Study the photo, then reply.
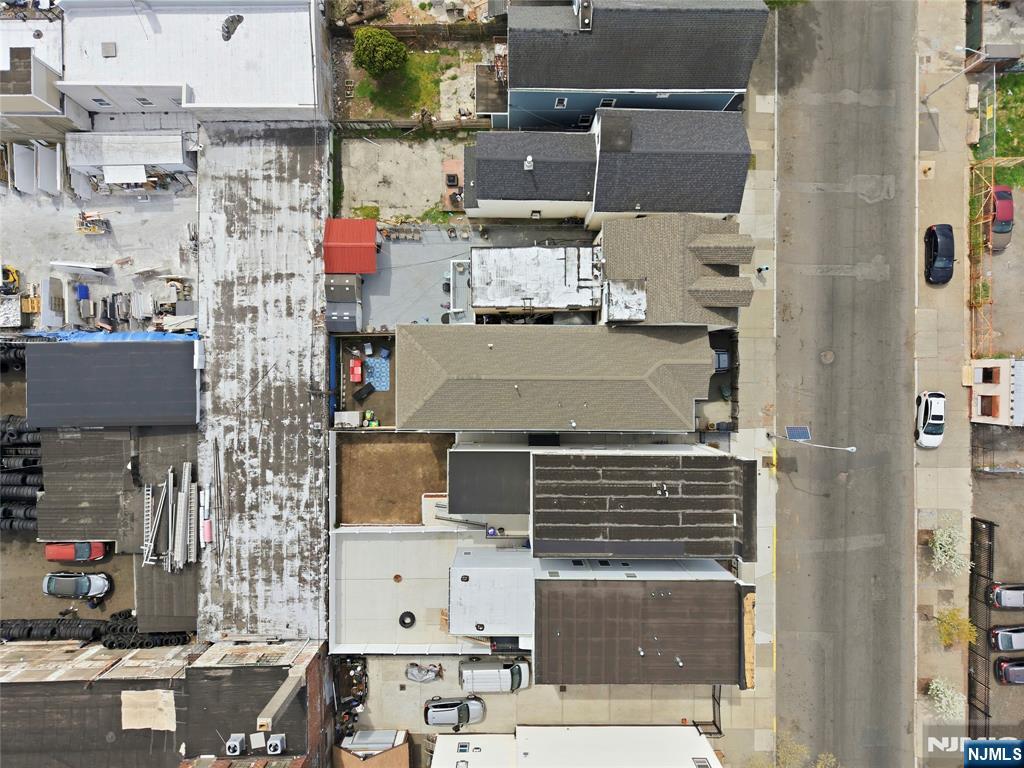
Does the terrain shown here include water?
No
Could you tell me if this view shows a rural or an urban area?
urban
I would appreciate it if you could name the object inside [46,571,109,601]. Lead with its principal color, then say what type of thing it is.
gray car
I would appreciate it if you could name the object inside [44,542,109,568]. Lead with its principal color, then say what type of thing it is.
red vehicle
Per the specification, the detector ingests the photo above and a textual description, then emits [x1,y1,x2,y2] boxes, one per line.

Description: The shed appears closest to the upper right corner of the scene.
[956,45,1021,72]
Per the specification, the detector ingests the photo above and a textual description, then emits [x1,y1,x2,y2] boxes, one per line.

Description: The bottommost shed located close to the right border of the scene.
[964,356,1024,431]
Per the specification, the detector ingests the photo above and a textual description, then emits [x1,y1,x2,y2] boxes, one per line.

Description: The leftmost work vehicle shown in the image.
[0,265,21,294]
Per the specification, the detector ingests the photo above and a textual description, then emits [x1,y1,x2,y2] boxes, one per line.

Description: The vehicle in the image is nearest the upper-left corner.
[71,205,117,236]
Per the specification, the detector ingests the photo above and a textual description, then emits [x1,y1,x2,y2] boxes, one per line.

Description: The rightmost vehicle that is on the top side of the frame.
[984,188,1018,250]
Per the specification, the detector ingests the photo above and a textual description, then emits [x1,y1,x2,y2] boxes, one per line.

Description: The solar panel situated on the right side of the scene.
[785,426,811,440]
